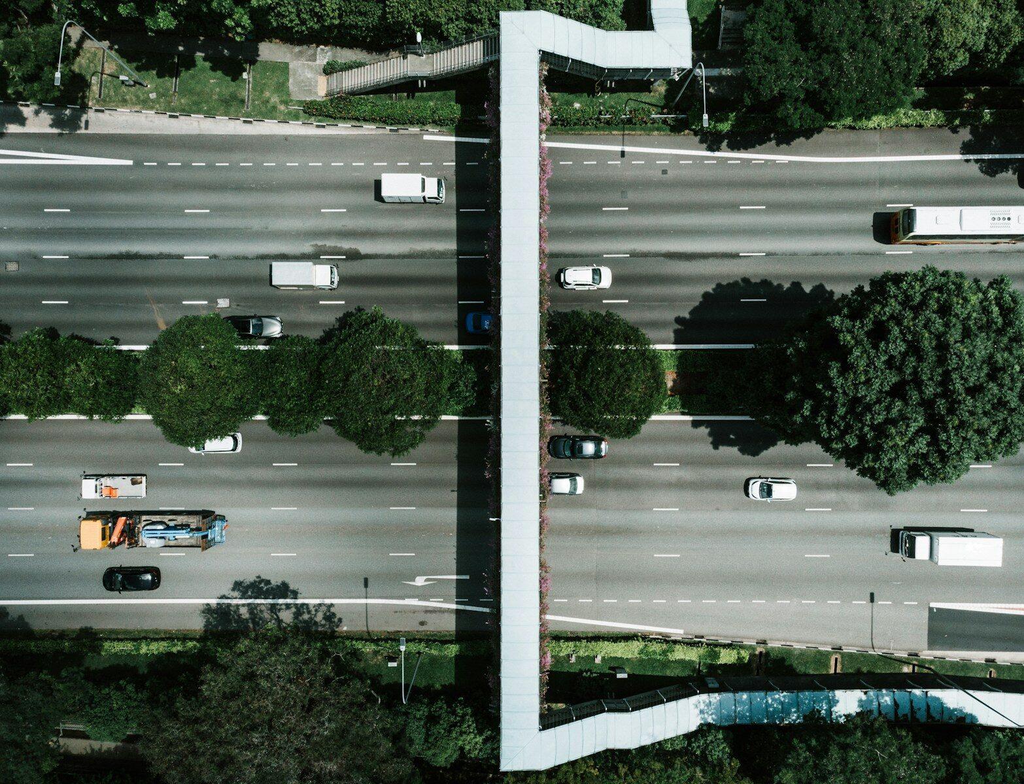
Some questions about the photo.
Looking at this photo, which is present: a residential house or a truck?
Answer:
truck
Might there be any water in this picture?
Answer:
No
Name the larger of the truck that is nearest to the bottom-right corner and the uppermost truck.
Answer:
the truck that is nearest to the bottom-right corner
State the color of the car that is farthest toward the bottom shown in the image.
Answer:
black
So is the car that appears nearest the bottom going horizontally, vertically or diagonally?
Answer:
horizontally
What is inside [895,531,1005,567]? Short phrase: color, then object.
white truck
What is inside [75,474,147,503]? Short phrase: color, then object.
white truck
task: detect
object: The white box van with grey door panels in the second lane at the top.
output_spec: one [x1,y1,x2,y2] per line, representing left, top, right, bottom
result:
[381,171,447,201]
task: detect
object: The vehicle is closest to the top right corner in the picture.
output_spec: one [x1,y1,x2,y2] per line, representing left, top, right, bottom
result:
[890,206,1024,243]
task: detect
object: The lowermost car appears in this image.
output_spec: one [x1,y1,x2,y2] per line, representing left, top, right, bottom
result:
[103,567,162,595]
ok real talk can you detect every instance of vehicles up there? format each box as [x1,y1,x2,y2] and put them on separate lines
[747,477,801,503]
[546,472,585,495]
[188,432,242,456]
[270,261,341,290]
[81,513,212,551]
[75,474,147,503]
[465,311,494,334]
[895,531,1005,567]
[549,434,609,461]
[223,312,282,339]
[381,171,447,201]
[558,263,614,289]
[103,567,162,595]
[890,206,1024,243]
